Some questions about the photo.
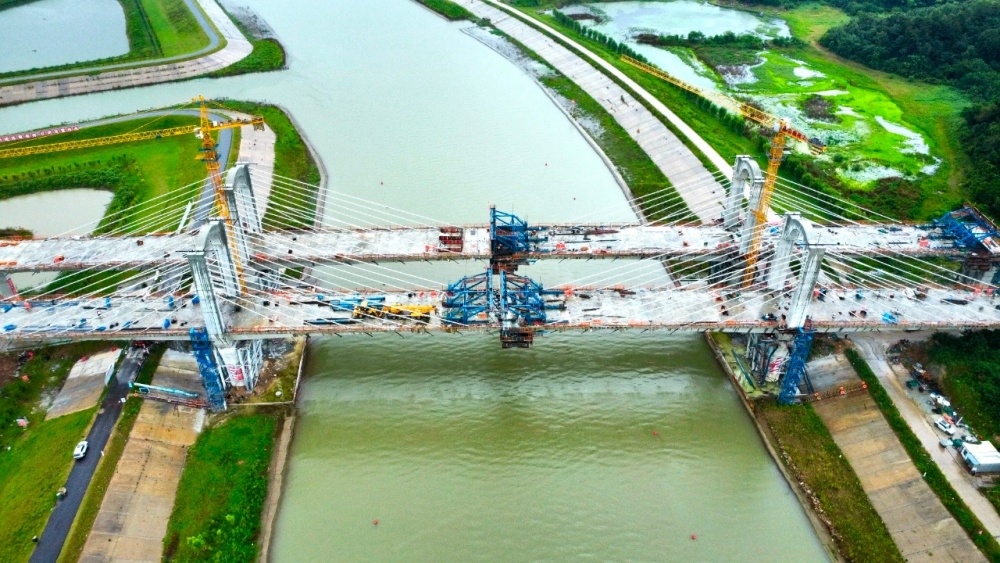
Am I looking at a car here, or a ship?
car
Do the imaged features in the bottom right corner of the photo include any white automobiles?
Yes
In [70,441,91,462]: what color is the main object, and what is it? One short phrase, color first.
white car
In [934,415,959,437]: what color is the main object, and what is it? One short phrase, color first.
white car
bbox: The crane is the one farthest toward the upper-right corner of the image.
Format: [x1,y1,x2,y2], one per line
[614,47,835,360]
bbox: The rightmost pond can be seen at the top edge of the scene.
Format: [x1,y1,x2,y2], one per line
[557,0,779,133]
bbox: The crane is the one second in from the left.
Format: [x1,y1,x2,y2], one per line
[383,298,443,322]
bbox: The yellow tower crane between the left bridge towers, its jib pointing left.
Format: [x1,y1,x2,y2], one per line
[0,94,271,368]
